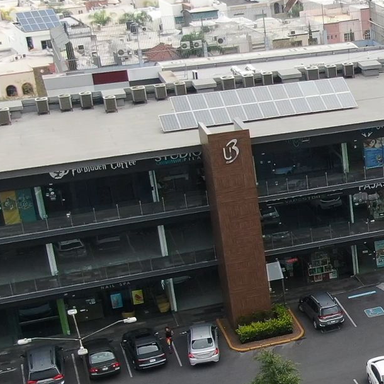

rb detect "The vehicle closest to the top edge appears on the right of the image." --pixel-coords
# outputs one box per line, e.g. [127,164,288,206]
[295,288,343,330]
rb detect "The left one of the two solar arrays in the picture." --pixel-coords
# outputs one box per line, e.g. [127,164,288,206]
[0,0,52,32]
